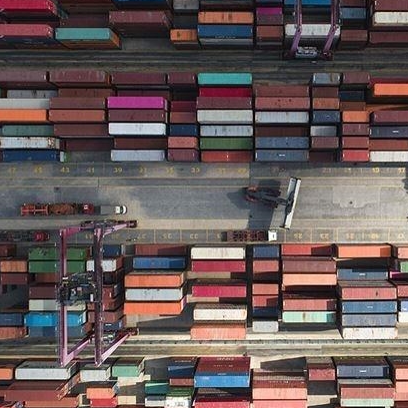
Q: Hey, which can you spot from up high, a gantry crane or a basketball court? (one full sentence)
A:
Of the two, only a gantry crane appears.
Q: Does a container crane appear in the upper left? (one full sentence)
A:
No, no container crane is visible in the upper left.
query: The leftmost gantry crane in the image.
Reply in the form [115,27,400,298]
[53,219,144,375]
